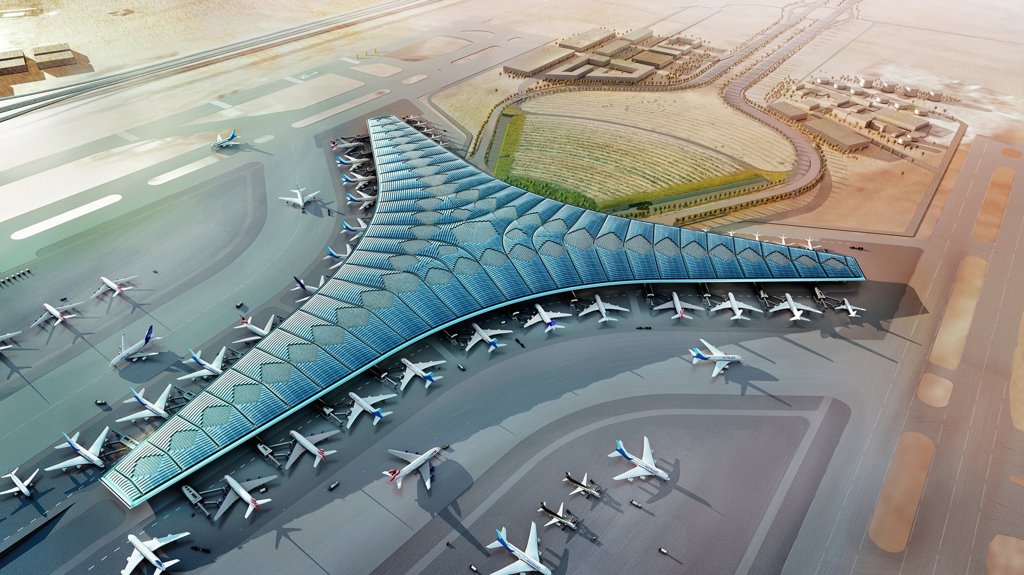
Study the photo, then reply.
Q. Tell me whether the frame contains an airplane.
Yes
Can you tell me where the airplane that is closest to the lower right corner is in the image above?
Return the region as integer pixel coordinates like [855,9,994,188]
[835,298,866,318]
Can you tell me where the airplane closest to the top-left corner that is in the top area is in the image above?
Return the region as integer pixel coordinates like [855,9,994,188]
[209,131,240,147]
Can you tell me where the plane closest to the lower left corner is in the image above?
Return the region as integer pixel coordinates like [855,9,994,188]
[0,468,36,496]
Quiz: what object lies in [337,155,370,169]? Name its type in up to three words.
airplane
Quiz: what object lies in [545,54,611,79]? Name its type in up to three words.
building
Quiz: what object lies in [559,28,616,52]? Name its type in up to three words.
building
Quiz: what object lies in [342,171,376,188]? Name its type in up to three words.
airplane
